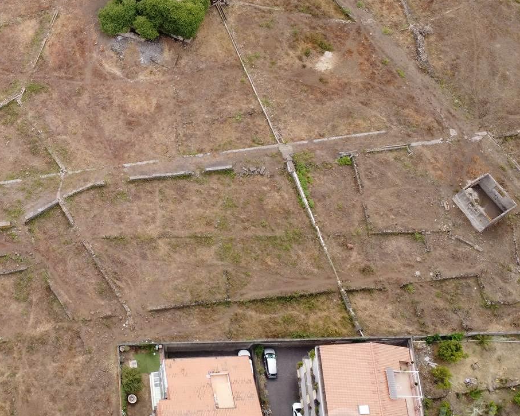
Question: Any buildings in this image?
Yes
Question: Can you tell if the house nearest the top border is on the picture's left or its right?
right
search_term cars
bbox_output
[289,402,300,416]
[261,349,279,379]
[237,349,256,376]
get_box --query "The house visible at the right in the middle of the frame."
[452,174,517,230]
